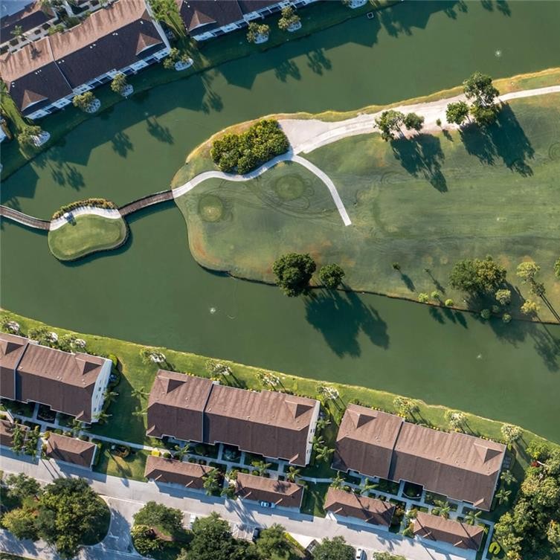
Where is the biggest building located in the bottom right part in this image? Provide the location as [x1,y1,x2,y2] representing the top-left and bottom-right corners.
[329,404,507,515]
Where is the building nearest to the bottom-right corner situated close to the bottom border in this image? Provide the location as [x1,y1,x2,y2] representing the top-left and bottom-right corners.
[412,511,486,552]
